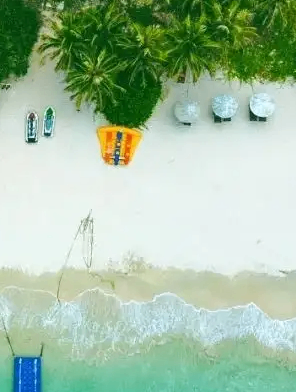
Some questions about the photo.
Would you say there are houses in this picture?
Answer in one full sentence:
No, the picture doesn't show any house.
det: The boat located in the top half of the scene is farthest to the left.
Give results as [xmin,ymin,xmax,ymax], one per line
[26,109,39,143]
